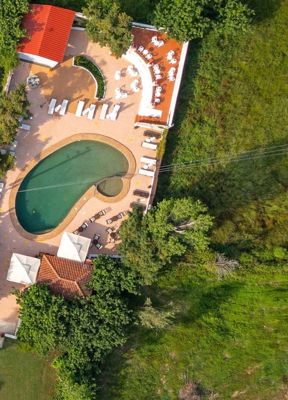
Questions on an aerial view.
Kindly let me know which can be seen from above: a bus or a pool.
pool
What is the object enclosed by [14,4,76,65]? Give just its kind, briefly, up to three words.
building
